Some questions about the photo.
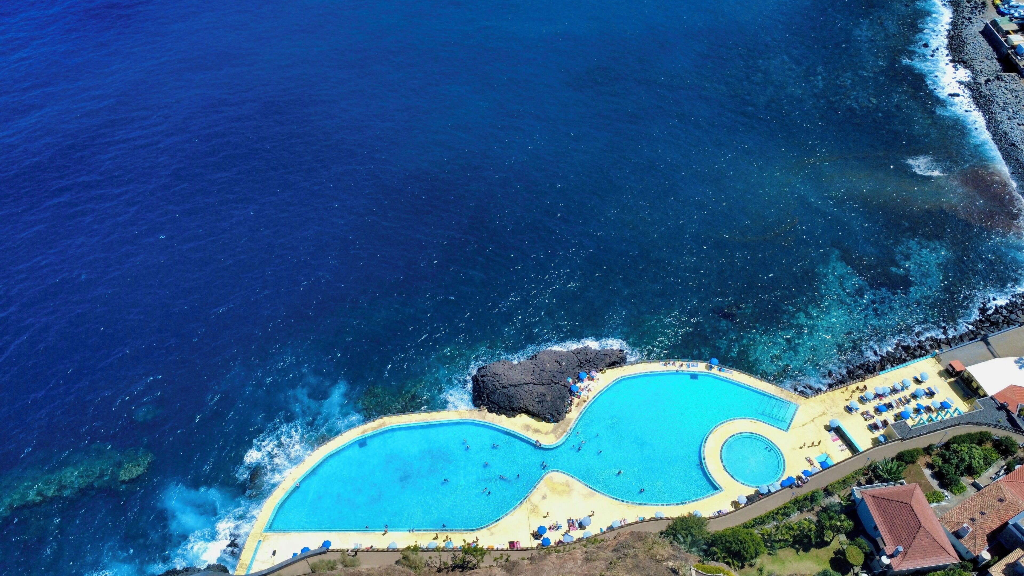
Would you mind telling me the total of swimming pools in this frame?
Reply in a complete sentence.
In total, there are 2 swimming pools in the scene.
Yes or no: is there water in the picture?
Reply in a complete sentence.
Yes, water shows up in the scene.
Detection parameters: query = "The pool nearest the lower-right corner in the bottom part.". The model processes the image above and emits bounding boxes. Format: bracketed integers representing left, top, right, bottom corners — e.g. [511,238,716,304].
[720,432,786,488]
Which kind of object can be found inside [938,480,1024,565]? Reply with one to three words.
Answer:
house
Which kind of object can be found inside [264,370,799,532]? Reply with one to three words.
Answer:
swimming pool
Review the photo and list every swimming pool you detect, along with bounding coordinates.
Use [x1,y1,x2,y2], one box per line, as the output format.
[264,370,799,532]
[720,432,786,488]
